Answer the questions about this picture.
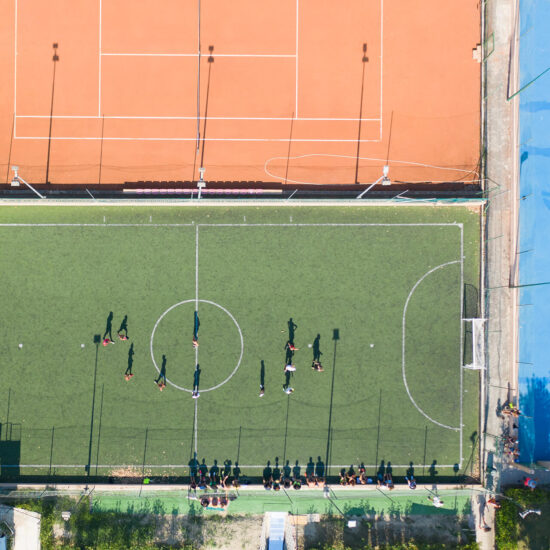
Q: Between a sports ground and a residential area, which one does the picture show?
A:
sports ground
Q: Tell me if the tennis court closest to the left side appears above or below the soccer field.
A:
above it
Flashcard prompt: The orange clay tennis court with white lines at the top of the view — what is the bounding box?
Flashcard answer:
[0,0,480,189]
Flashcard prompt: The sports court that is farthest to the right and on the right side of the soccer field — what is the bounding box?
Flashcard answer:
[517,0,550,462]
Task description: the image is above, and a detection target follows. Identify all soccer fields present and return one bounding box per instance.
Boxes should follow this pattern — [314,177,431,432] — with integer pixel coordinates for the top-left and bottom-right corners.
[0,205,480,483]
